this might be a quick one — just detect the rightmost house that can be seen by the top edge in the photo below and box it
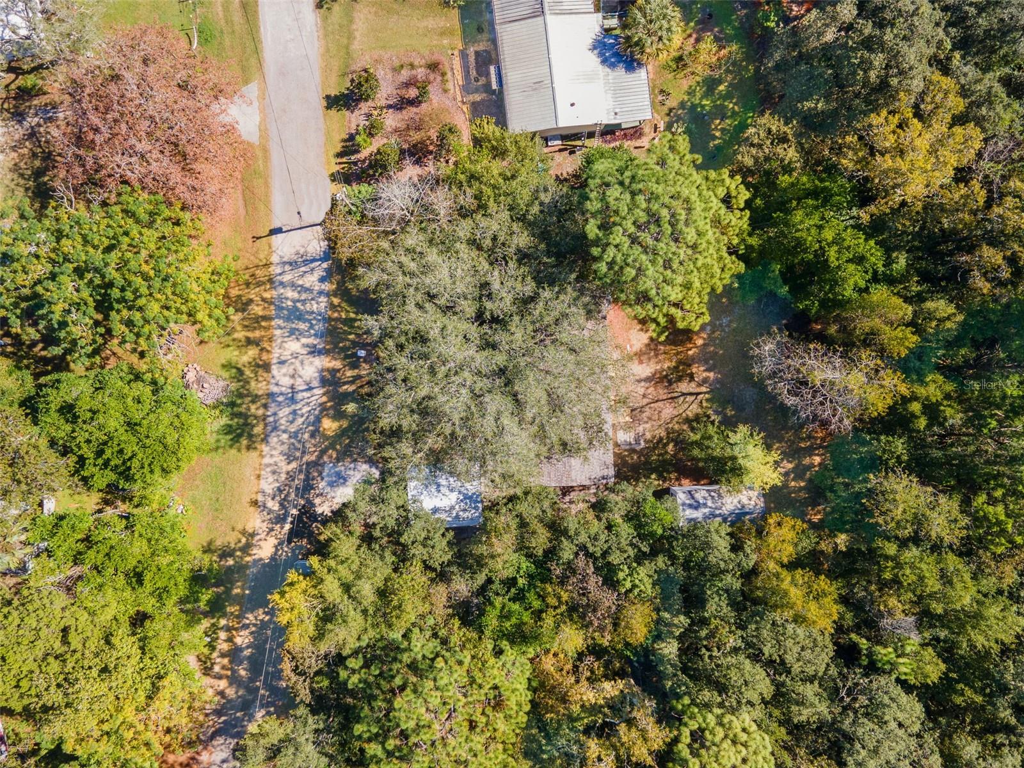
[488,0,650,138]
